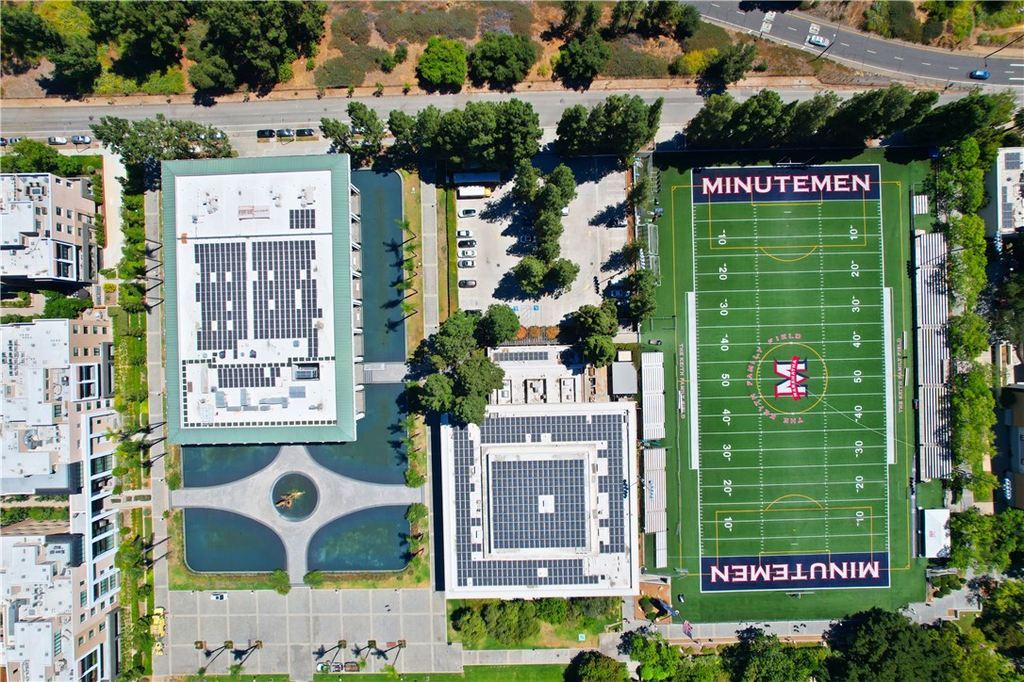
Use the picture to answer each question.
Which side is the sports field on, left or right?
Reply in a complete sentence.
The sports field is on the right side of the image.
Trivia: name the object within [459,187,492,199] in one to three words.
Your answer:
vehicle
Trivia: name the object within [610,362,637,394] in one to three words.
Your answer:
shed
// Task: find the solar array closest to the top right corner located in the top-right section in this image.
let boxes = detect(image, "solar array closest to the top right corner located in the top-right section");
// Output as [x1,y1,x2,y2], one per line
[1006,151,1021,167]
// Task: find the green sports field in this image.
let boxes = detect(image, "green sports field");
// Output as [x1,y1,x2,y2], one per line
[633,143,935,626]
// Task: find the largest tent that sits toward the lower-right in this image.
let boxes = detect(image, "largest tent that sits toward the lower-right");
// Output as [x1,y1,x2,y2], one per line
[918,506,950,558]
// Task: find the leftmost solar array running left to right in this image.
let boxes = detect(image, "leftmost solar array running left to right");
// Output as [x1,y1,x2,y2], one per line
[218,368,280,387]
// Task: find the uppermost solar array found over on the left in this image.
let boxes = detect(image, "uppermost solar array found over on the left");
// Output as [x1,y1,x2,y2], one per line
[290,209,315,229]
